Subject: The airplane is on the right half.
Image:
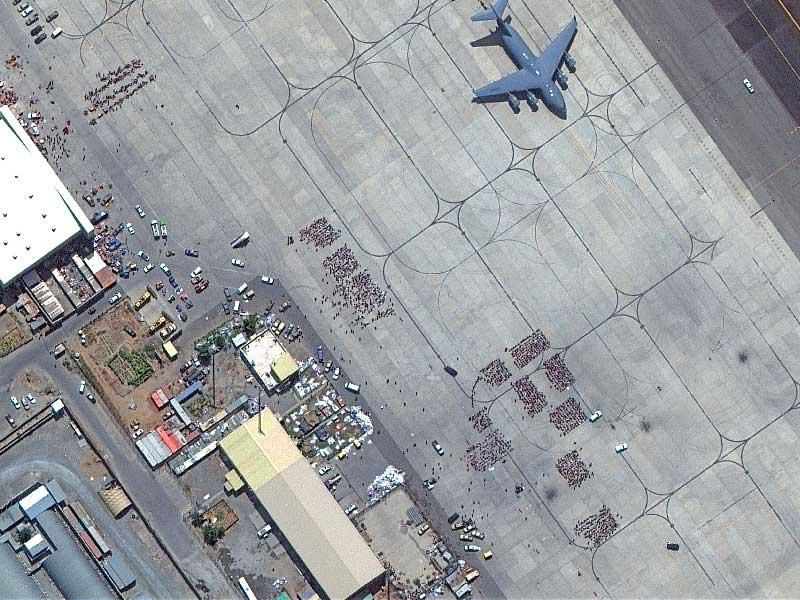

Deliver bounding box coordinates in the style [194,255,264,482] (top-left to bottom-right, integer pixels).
[467,0,578,120]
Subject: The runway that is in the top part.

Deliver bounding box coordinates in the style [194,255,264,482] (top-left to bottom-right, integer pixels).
[710,0,800,130]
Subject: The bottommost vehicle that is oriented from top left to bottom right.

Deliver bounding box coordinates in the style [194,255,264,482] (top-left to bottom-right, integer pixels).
[238,578,259,600]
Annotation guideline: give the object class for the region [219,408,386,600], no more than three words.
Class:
building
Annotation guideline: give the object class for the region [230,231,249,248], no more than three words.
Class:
vehicle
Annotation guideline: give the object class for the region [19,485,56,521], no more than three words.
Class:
house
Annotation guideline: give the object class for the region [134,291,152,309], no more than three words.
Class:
vehicle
